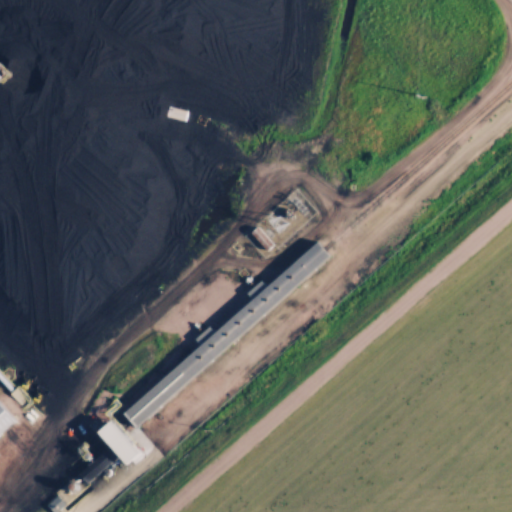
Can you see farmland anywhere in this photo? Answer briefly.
Yes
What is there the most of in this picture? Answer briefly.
paved ground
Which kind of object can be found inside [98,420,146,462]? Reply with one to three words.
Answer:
building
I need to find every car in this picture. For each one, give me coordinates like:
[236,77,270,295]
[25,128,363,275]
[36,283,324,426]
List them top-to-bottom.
[472,96,480,104]
[100,356,108,364]
[78,426,86,434]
